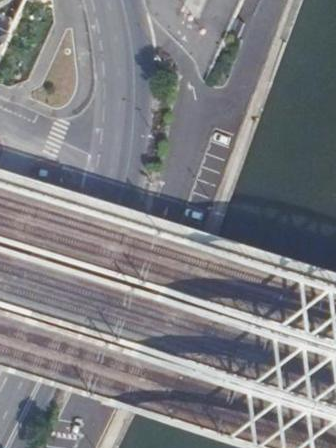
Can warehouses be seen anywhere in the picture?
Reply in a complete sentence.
No, no warehouse is visible in the view.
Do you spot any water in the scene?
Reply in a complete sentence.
Yes, water can be seen from above here.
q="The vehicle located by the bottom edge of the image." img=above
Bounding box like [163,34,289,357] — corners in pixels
[70,417,82,435]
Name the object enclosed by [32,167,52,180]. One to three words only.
vehicle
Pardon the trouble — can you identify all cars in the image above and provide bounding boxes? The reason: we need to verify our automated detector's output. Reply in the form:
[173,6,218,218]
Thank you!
[70,417,82,435]
[184,207,204,219]
[212,132,232,146]
[32,167,52,180]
